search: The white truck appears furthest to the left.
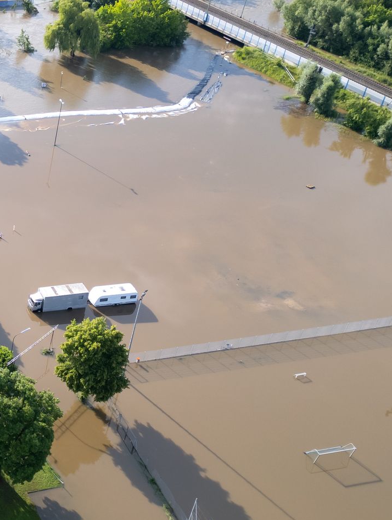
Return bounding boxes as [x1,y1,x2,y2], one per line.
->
[25,284,90,309]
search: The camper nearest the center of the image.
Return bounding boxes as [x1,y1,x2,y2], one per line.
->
[89,283,138,305]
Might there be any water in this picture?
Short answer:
Yes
